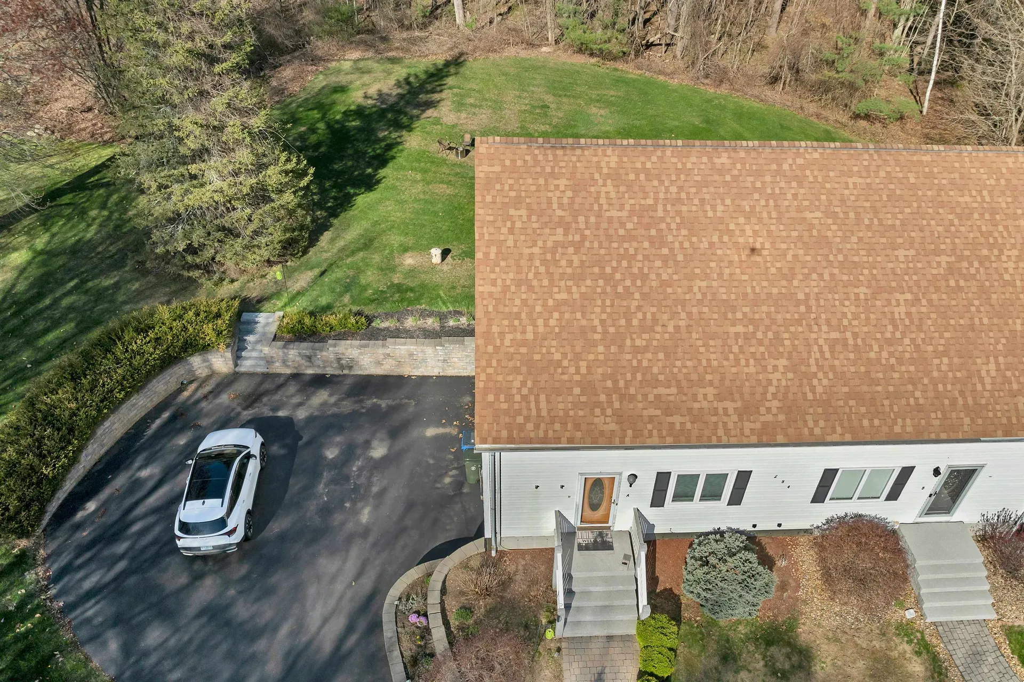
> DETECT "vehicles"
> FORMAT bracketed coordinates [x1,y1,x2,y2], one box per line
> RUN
[173,430,266,554]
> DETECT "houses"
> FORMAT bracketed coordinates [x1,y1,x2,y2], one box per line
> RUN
[471,137,1024,553]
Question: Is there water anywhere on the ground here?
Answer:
No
